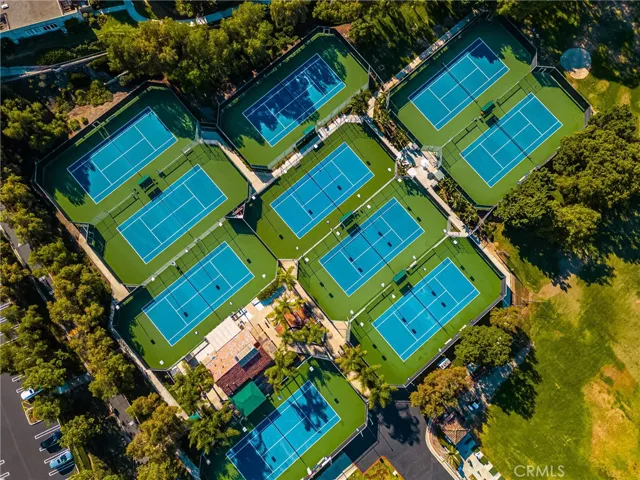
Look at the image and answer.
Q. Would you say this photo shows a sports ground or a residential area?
sports ground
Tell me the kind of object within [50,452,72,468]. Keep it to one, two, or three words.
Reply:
car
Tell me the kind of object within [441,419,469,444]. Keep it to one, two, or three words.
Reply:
shed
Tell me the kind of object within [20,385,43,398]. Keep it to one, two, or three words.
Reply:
vehicle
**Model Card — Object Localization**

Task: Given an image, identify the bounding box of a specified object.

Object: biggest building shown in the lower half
[204,329,273,397]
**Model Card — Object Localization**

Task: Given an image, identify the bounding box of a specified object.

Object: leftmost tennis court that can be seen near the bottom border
[203,359,366,480]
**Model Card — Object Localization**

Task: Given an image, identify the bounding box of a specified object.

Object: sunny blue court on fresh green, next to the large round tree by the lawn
[350,238,501,385]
